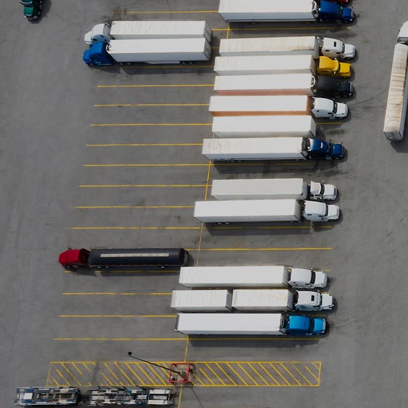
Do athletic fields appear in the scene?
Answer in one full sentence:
No, there is no athletic field in the image.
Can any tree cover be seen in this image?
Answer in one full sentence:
No, tree cover can't be seen anywhere here.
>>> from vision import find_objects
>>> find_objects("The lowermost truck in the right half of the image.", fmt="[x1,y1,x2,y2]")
[173,313,327,336]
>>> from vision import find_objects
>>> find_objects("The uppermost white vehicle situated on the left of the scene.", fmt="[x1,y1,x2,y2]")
[83,21,214,45]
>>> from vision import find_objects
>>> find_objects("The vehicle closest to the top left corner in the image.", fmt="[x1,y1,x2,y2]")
[18,0,40,21]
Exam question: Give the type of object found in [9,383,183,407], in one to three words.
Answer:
truck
